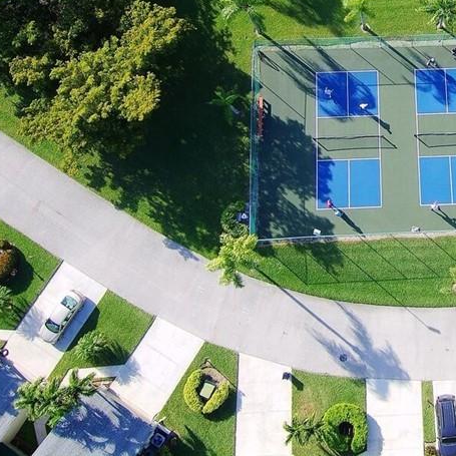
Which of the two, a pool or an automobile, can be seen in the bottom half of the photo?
automobile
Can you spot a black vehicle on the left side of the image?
No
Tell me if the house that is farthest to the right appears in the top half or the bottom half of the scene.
bottom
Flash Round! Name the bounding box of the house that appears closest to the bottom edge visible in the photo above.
[51,390,155,456]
